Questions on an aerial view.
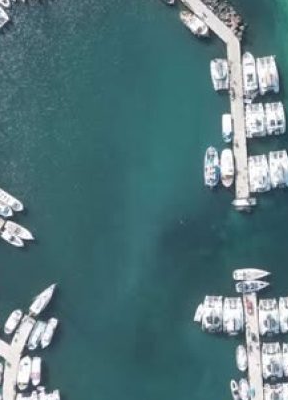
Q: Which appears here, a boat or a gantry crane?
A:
boat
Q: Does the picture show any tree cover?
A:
No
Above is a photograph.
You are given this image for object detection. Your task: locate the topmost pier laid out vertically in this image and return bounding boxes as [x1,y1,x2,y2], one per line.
[180,0,250,199]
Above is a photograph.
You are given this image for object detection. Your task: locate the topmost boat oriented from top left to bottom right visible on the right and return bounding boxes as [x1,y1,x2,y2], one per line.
[179,9,209,38]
